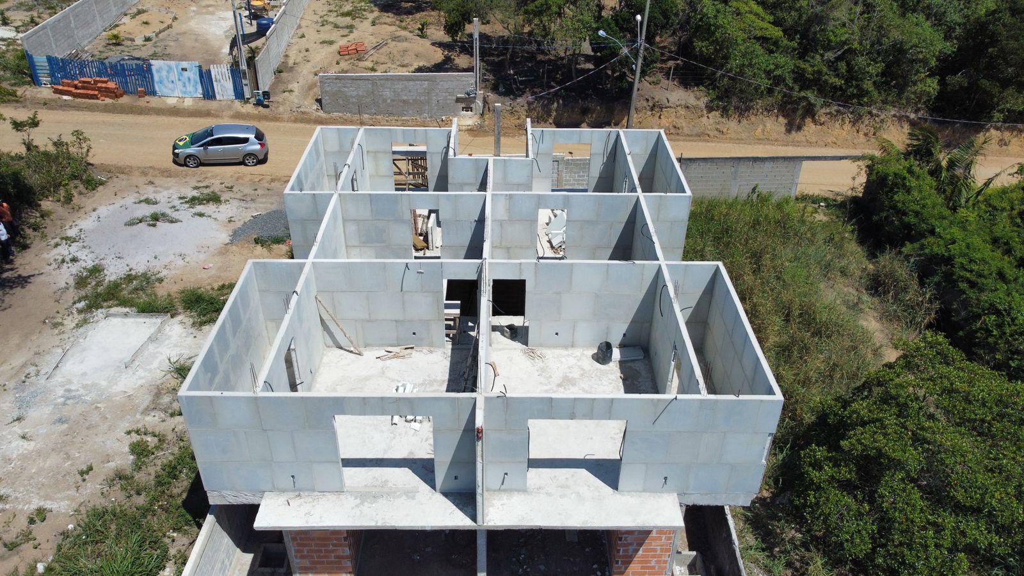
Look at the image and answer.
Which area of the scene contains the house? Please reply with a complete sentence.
The house appears toward the center of the photo.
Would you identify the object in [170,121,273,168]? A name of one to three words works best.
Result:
car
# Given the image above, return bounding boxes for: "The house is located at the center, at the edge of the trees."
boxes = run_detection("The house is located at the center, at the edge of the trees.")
[178,109,783,576]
